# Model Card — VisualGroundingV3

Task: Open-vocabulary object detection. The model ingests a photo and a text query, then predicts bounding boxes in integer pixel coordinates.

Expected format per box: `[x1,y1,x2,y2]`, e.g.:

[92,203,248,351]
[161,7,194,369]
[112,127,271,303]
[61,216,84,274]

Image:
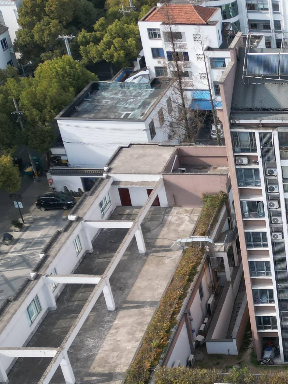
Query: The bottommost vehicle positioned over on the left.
[30,193,74,212]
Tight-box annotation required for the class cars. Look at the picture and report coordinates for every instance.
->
[30,193,74,212]
[210,125,223,135]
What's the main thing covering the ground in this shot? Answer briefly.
buildings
